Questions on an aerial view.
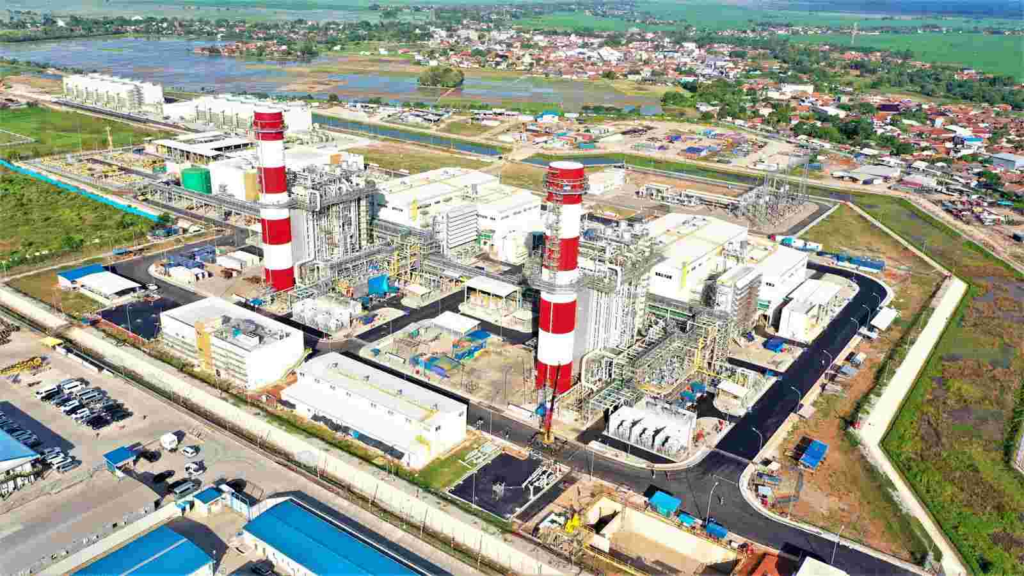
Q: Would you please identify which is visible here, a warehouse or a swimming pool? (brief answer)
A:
warehouse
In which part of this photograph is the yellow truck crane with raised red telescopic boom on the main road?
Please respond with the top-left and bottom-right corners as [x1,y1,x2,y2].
[528,365,558,452]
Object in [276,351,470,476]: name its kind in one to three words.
warehouse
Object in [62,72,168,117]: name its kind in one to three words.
cooling tower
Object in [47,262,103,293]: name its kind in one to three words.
shed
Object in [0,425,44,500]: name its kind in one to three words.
building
